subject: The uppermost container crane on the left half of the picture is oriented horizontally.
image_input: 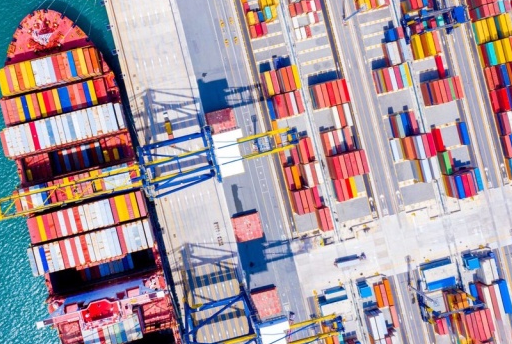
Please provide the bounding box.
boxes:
[0,121,302,222]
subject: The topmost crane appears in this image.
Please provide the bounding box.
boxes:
[396,2,470,43]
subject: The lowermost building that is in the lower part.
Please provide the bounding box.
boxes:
[318,296,353,319]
